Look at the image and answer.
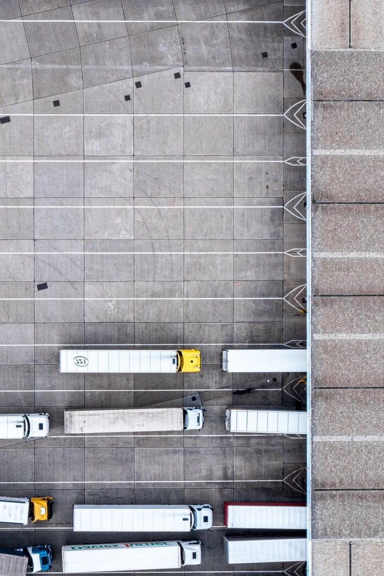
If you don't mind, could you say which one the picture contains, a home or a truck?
truck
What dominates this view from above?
paved ground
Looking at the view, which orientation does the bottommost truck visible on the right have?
from side to side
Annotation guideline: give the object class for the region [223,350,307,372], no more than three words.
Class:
truck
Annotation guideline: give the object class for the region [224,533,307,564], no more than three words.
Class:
truck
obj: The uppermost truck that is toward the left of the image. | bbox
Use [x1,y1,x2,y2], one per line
[58,349,202,374]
